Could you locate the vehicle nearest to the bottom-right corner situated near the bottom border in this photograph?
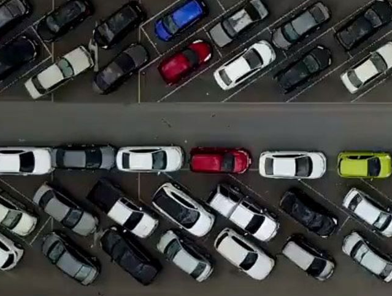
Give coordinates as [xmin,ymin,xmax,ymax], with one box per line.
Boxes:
[343,230,392,283]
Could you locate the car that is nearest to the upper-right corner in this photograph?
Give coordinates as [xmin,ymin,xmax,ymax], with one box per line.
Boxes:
[336,0,392,50]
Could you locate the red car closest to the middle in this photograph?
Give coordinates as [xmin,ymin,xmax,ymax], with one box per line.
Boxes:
[190,146,251,177]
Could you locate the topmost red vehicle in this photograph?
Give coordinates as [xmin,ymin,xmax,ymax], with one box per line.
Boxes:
[159,40,213,83]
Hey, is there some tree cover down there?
No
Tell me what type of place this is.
parking lot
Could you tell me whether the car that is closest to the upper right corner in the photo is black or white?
black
